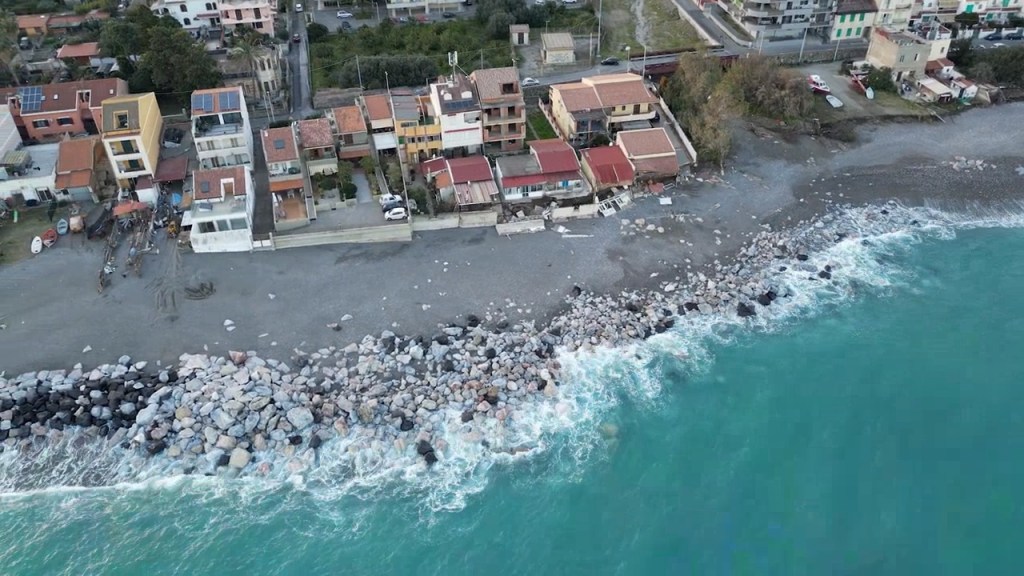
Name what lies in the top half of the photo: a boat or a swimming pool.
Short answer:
boat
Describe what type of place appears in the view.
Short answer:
residential area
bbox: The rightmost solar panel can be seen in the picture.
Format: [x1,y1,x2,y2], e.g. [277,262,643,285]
[447,97,475,109]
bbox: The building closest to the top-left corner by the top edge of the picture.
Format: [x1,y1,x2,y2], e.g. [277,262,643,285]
[17,12,53,41]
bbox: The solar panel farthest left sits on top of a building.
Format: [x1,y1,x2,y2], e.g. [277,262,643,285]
[18,87,45,110]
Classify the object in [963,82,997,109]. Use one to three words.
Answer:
shed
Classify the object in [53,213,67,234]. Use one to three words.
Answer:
boat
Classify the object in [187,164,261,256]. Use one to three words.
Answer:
house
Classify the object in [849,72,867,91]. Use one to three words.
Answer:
boat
